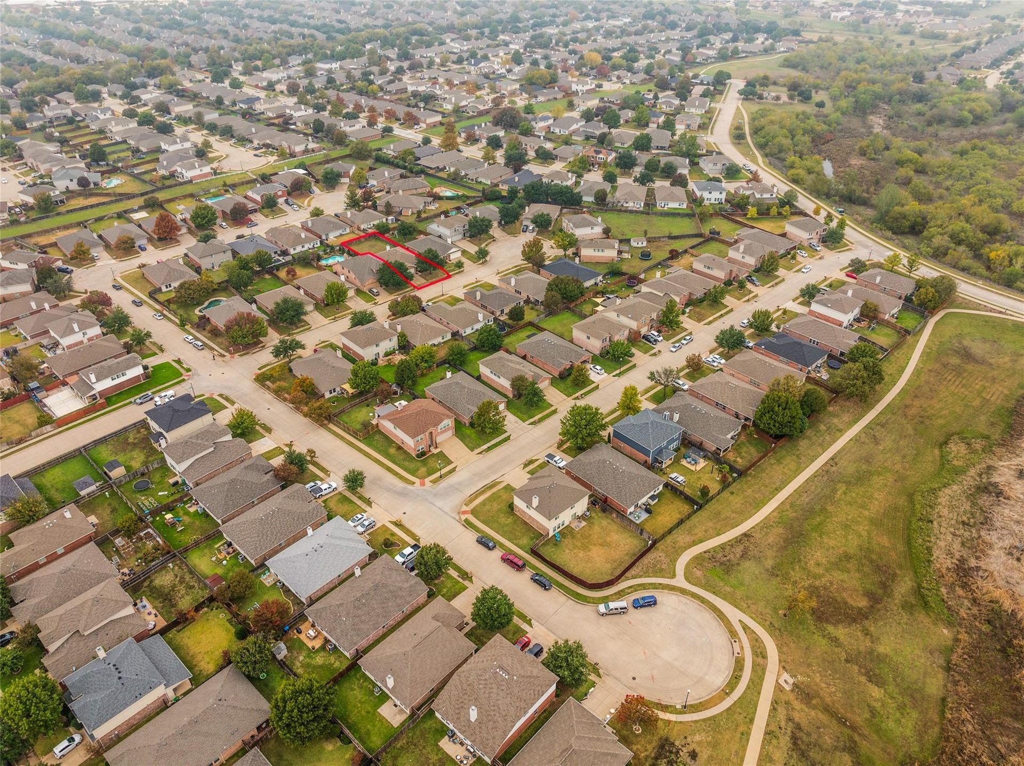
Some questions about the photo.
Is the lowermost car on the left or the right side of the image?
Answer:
left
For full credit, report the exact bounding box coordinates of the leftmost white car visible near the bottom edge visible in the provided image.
[47,732,87,763]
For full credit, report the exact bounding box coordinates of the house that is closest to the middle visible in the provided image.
[471,350,547,401]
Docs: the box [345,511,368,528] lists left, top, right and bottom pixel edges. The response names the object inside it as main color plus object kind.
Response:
white car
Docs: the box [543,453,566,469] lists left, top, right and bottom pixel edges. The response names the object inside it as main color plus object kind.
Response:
white vehicle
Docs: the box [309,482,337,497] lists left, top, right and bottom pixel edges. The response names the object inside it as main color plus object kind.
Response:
white vehicle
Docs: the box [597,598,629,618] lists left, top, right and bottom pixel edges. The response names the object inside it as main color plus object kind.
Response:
white car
